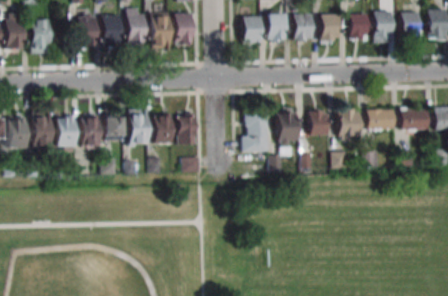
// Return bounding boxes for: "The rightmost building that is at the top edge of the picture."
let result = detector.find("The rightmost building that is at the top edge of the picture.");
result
[424,10,448,42]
